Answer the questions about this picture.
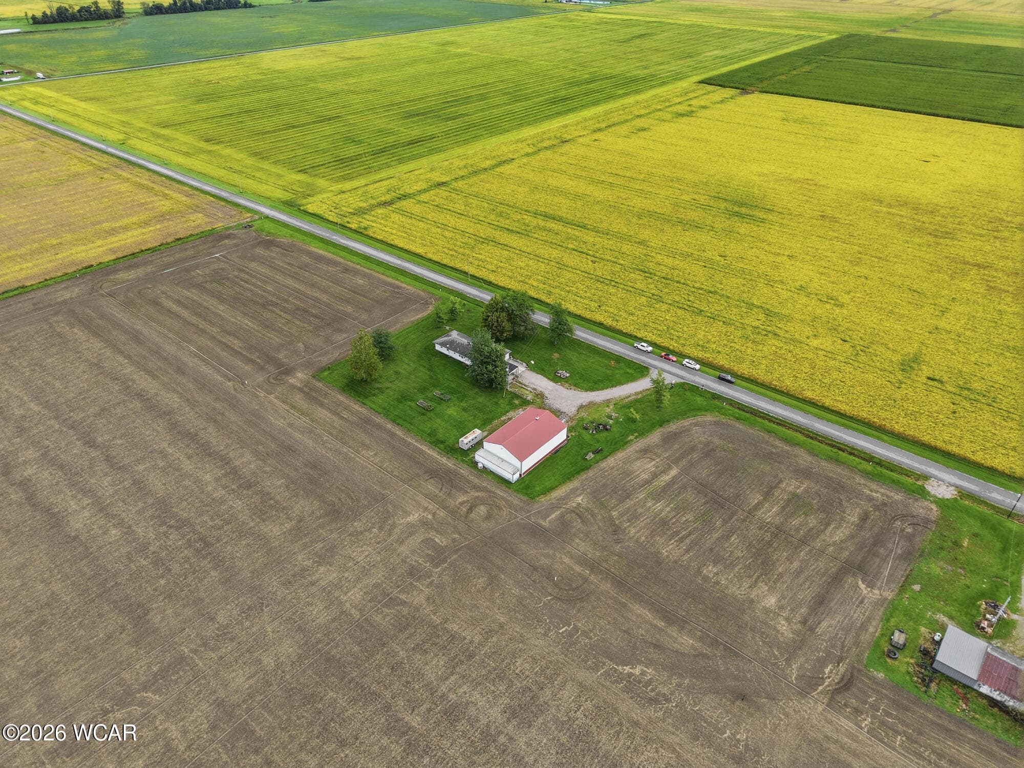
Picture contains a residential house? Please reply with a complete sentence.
Yes, there is a residential house in the image.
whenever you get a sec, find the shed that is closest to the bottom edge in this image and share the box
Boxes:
[935,625,1024,724]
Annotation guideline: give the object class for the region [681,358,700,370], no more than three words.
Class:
vehicle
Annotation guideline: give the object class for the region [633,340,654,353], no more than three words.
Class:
vehicle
